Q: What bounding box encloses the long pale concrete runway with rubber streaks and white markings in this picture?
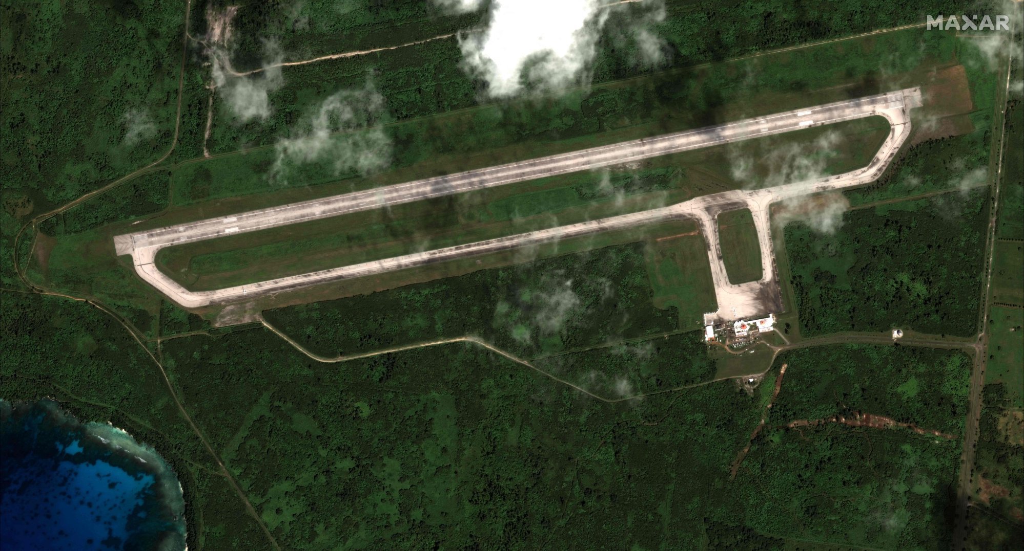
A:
[114,87,923,256]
